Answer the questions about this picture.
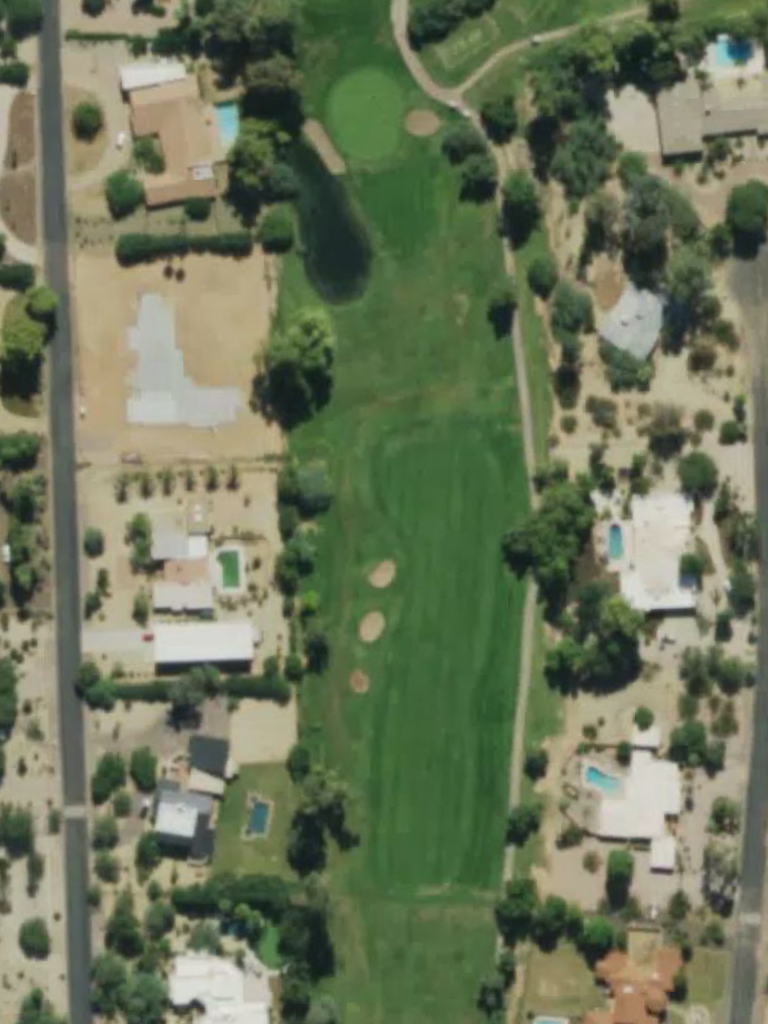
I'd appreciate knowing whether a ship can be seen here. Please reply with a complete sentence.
No, I can see no ship in this picture.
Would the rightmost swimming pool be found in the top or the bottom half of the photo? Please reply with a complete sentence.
The top half of the photo is where the rightmost swimming pool is.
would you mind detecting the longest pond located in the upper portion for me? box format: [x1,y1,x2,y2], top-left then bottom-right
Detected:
[296,141,372,302]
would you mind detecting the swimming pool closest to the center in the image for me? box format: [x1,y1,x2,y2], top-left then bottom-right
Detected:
[217,550,241,588]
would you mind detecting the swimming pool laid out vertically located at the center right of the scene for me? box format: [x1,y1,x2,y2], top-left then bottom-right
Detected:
[608,523,624,561]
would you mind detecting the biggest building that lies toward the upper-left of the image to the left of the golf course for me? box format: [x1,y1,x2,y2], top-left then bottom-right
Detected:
[120,62,215,206]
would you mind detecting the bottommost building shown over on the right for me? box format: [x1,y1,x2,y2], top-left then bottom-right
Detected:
[587,949,683,1024]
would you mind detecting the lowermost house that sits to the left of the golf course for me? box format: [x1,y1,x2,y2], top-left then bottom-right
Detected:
[168,958,269,1024]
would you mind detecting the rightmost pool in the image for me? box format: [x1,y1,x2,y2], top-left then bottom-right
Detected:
[715,35,754,67]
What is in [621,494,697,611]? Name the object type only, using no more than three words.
house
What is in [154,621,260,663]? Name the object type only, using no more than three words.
building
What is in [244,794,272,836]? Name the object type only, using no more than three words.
swimming pool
